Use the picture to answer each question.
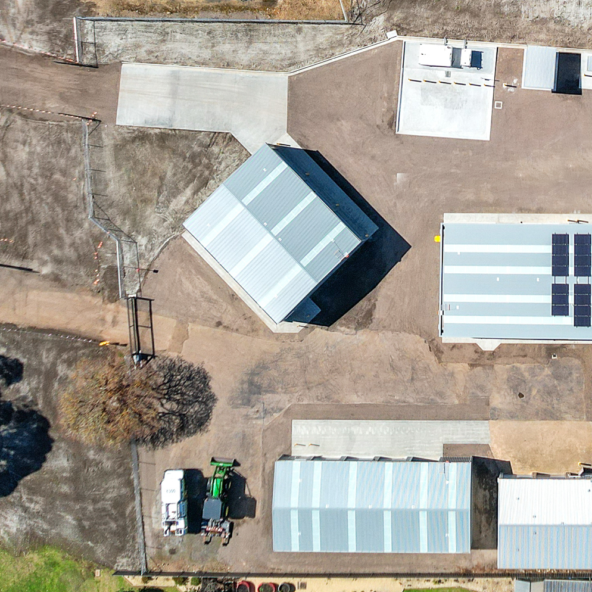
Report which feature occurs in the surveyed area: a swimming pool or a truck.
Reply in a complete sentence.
Visible in the photo is a truck.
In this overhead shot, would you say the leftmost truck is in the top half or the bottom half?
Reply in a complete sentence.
The bottom half of the photo is where the leftmost truck is.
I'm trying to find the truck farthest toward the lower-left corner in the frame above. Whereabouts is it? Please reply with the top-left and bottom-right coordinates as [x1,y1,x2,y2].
[160,472,192,540]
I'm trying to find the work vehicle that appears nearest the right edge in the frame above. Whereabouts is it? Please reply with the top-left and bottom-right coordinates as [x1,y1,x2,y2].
[200,457,232,543]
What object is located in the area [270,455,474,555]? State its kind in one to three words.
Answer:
shed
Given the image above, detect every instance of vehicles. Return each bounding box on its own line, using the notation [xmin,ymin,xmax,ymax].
[160,472,192,540]
[200,457,232,543]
